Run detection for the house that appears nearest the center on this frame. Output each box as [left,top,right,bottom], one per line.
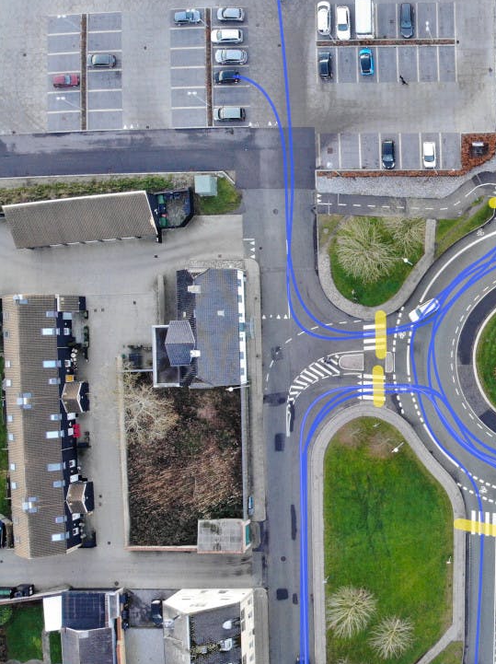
[152,269,254,389]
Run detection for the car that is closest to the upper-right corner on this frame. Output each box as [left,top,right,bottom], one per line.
[398,2,414,39]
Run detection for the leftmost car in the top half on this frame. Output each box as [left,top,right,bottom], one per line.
[53,71,81,89]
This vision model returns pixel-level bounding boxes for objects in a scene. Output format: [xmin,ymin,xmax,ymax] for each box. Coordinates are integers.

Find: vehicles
[213,105,246,121]
[297,656,311,664]
[409,298,439,322]
[317,52,333,80]
[174,8,202,26]
[53,71,81,89]
[217,4,246,23]
[148,598,165,624]
[211,27,244,44]
[215,68,240,84]
[358,48,373,77]
[380,139,396,170]
[216,46,248,65]
[8,583,37,598]
[334,5,350,41]
[398,2,414,39]
[315,2,331,36]
[87,52,118,69]
[0,516,10,548]
[421,141,436,168]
